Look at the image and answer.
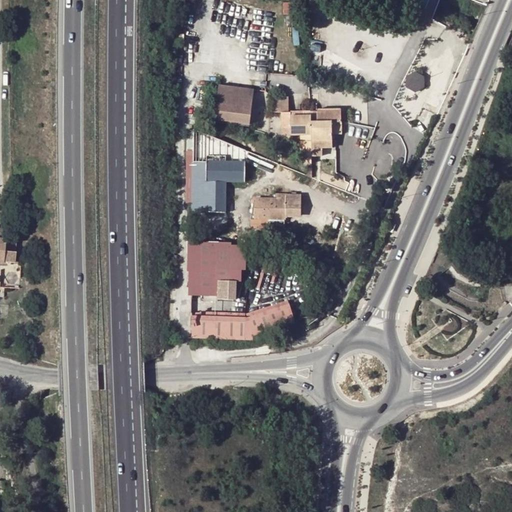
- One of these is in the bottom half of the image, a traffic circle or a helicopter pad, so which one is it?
traffic circle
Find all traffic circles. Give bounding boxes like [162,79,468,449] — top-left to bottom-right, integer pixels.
[316,332,408,424]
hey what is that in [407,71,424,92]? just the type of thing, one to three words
gazebo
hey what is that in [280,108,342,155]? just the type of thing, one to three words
house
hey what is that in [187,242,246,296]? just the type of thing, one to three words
hangar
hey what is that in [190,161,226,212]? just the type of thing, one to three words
building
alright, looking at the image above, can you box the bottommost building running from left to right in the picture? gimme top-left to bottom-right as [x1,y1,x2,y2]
[191,299,292,340]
